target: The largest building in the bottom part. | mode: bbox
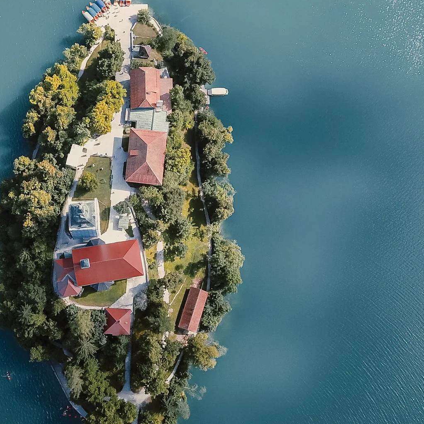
[54,238,143,297]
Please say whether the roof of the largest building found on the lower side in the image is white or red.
red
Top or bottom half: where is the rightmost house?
bottom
